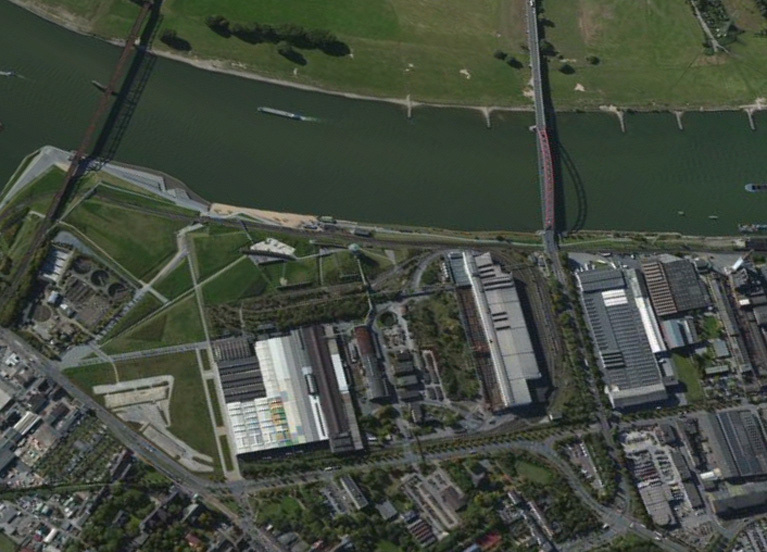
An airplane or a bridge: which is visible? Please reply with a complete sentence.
Visible in the photo is a bridge.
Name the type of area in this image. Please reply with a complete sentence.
The area seen from above is a port.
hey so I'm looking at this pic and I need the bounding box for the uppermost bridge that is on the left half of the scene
[47,0,147,222]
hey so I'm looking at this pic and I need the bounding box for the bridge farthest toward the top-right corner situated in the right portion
[529,0,556,252]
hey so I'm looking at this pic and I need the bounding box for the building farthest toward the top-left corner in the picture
[42,249,73,282]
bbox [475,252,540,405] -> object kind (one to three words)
building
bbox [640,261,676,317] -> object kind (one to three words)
building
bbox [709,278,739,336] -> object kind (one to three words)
shed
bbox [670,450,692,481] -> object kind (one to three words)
shed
